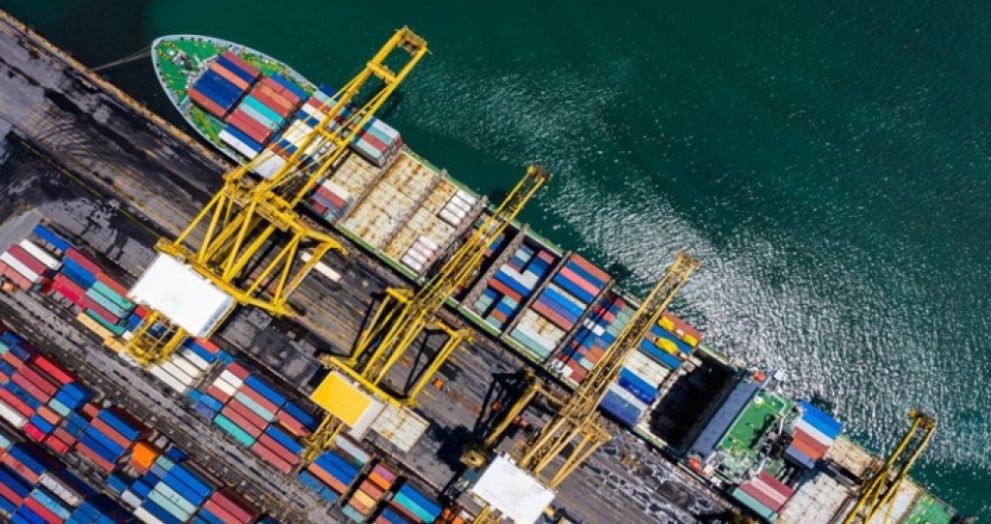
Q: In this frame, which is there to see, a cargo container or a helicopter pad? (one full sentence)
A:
The image shows a cargo container.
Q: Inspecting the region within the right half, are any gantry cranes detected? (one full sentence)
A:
Yes, a gantry crane shows up within the right half.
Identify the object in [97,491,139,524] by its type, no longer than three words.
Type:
shipping container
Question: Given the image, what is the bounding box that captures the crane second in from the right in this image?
[465,252,702,524]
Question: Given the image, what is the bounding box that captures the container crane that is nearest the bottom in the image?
[842,411,947,524]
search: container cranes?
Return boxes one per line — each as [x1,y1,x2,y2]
[842,411,947,524]
[123,27,433,380]
[465,252,702,524]
[281,159,546,477]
